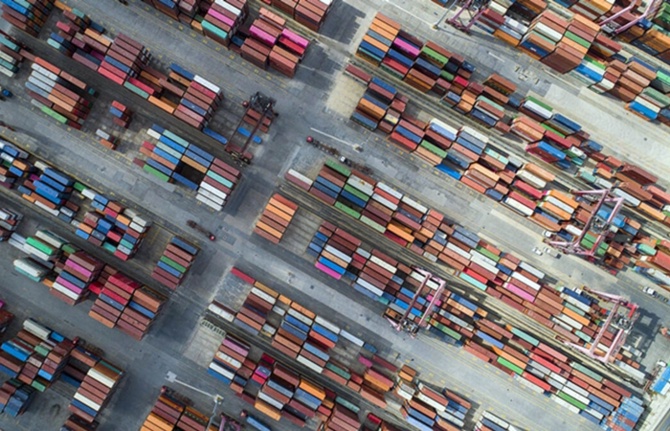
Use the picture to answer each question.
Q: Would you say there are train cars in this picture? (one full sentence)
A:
No, I find no train car anywhere in the image.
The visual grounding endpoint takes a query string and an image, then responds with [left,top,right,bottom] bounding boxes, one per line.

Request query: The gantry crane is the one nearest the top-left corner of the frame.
[221,88,287,168]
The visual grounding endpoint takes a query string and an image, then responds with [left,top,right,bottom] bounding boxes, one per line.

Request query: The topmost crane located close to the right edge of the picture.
[597,0,656,46]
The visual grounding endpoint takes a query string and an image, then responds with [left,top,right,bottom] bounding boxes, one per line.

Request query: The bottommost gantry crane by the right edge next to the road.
[551,283,642,366]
